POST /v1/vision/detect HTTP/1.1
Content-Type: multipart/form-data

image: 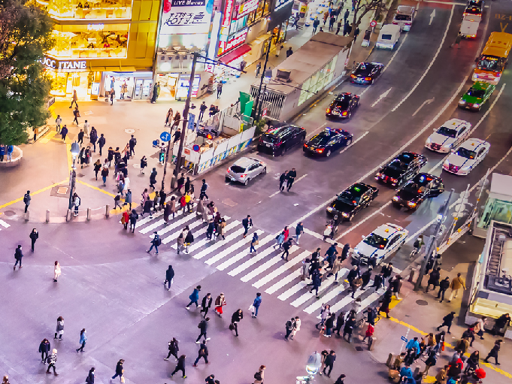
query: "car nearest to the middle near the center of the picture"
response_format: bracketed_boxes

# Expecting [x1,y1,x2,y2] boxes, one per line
[223,151,270,183]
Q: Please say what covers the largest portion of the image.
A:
paved ground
